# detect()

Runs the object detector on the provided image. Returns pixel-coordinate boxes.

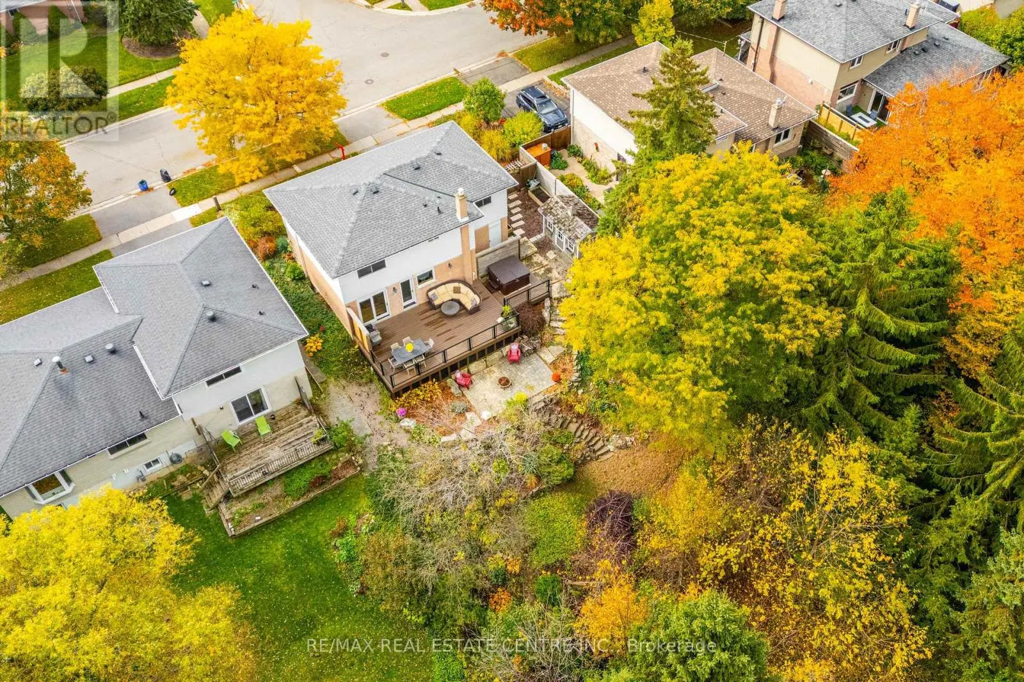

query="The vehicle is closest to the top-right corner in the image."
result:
[522,85,566,129]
